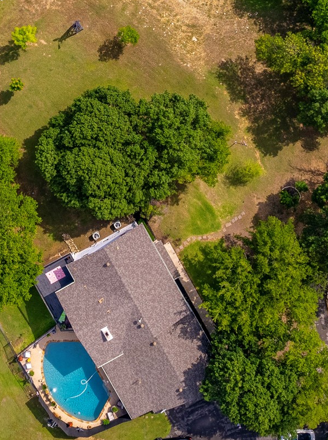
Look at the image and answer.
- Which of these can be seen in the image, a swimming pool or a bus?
swimming pool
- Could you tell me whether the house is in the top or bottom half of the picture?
bottom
